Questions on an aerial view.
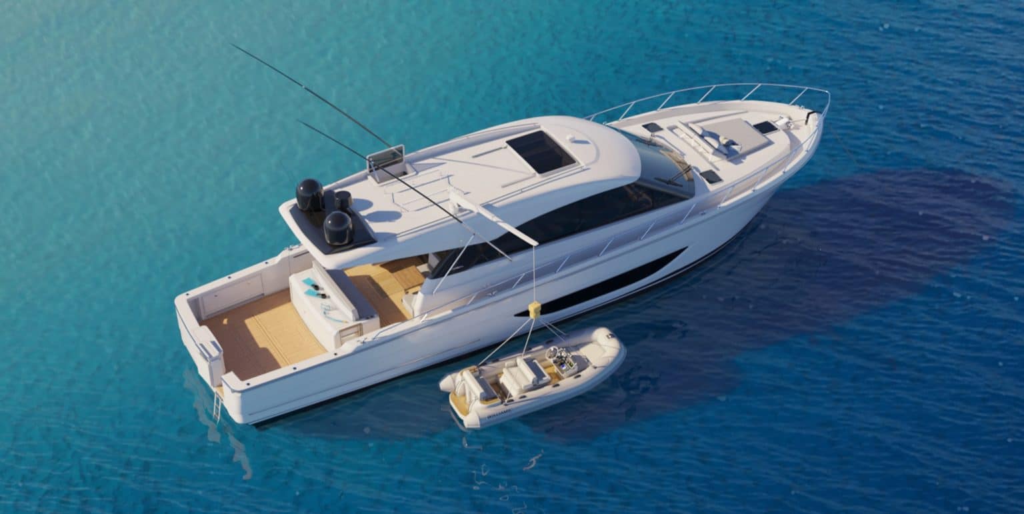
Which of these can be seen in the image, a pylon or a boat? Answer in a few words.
boat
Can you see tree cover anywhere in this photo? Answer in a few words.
No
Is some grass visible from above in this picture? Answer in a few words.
No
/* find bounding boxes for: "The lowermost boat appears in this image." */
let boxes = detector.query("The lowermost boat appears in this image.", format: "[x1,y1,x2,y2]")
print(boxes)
[435,327,629,431]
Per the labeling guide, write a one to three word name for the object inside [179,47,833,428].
boat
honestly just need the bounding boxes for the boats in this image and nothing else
[435,327,629,431]
[179,47,833,428]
